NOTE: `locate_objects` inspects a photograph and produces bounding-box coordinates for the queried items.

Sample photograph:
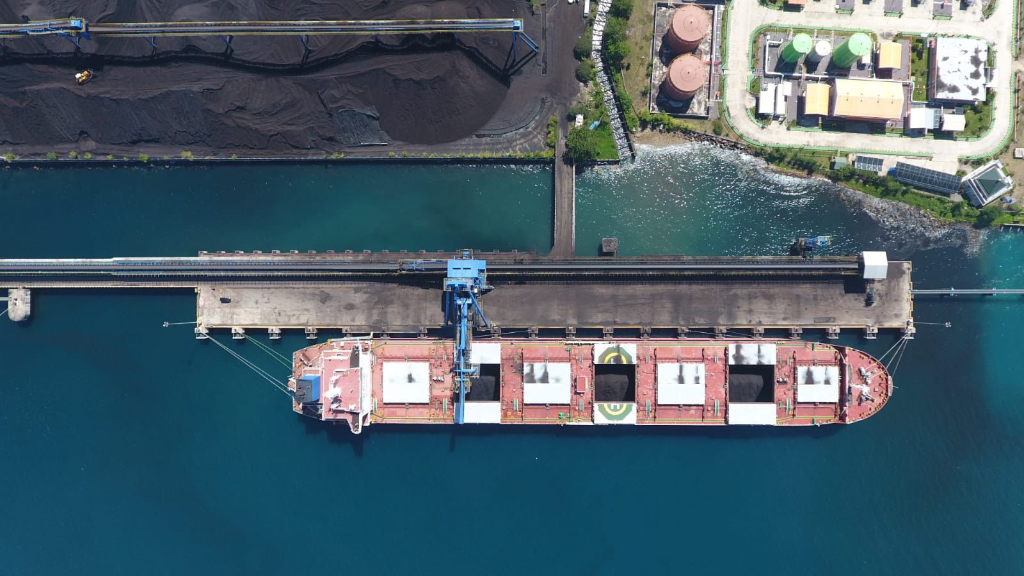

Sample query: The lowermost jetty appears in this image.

[197,248,912,339]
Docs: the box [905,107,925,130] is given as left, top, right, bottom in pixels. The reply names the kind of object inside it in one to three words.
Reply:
building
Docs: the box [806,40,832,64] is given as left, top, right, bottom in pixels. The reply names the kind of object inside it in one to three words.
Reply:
silo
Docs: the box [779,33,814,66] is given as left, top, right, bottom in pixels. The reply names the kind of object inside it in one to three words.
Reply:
silo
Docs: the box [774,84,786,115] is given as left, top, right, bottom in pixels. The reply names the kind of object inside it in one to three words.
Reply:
shed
